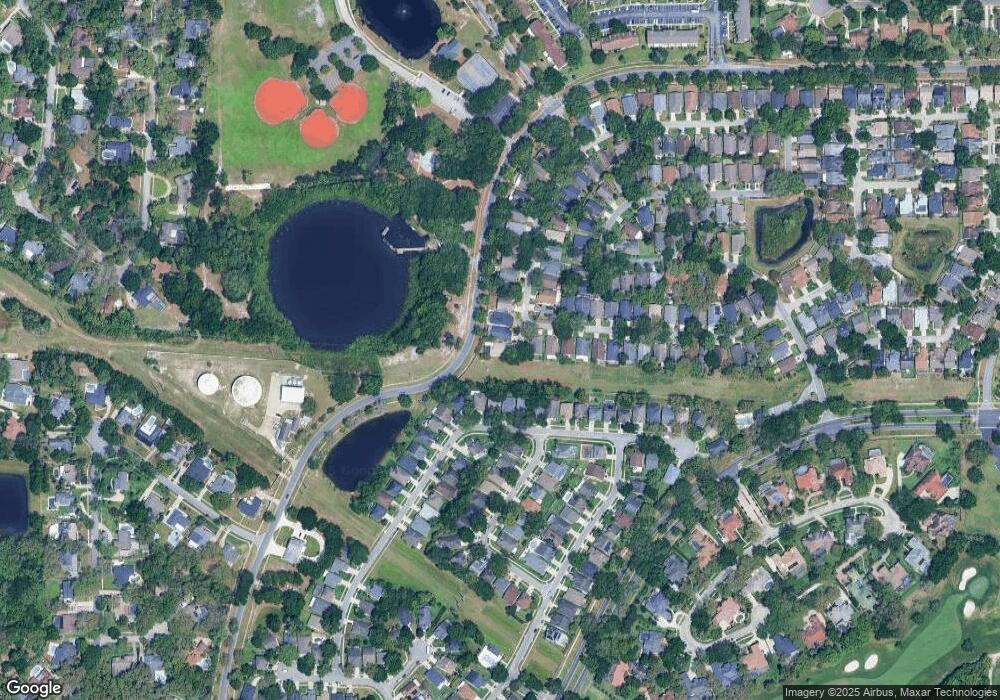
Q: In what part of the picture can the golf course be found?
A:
bottom right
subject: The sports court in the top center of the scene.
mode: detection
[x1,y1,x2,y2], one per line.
[458,54,498,93]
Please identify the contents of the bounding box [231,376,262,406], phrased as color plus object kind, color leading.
white storage tank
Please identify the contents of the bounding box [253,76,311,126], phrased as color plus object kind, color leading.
red baseball field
